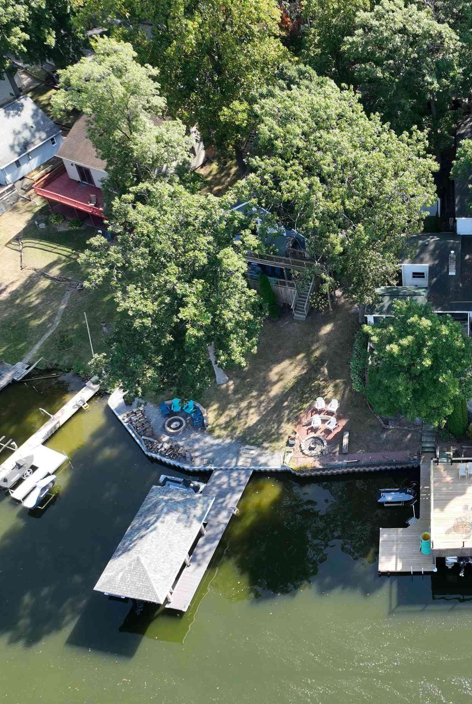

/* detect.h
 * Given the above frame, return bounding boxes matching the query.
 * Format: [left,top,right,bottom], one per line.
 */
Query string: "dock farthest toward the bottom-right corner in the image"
[378,457,439,578]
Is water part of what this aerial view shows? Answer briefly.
Yes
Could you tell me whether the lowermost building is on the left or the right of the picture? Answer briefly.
left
